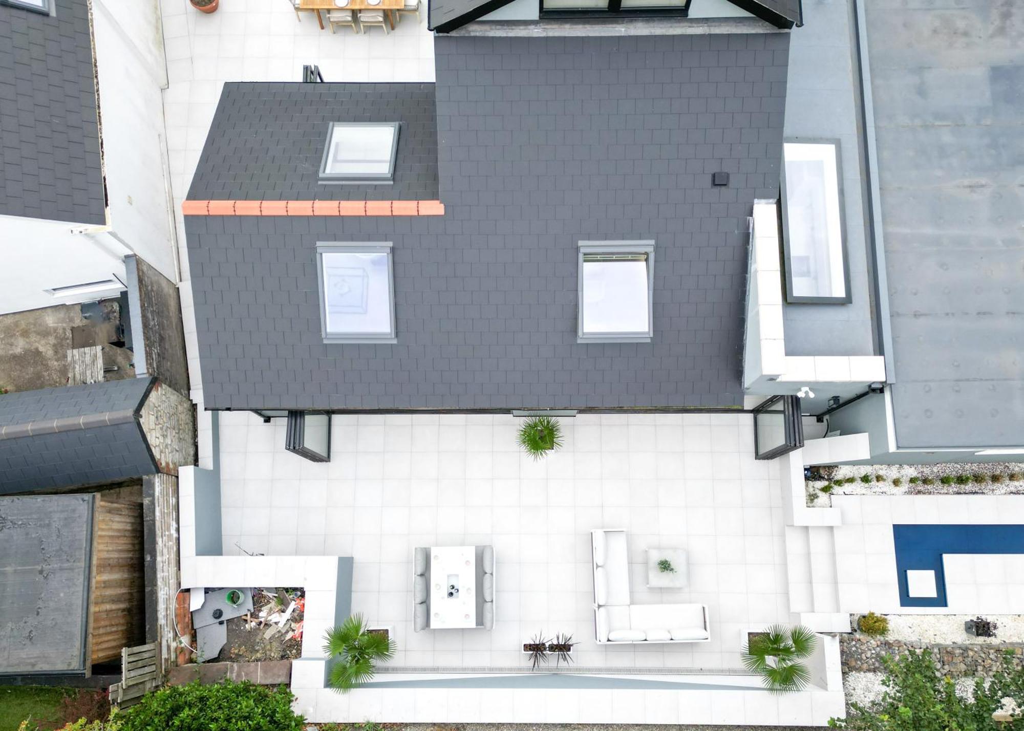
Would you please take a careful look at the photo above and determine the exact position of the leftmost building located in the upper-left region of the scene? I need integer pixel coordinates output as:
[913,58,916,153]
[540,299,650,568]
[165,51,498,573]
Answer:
[0,0,180,315]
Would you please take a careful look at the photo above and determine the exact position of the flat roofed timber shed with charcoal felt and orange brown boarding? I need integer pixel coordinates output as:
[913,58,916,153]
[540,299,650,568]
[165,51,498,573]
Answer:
[0,493,149,677]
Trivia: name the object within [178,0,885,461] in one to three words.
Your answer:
house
